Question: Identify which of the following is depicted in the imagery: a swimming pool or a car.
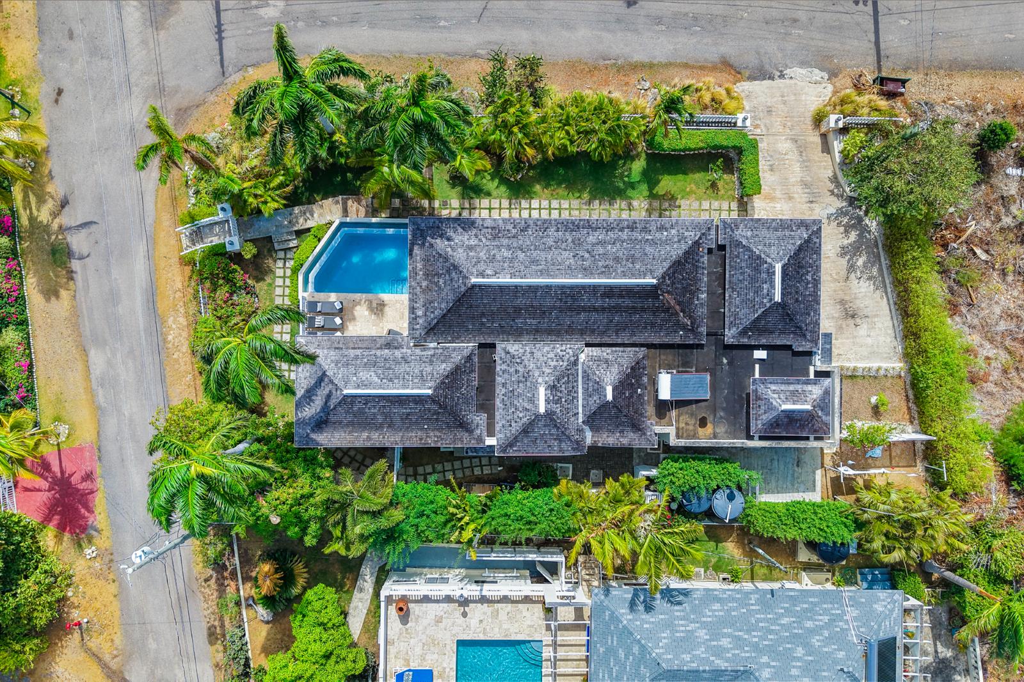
swimming pool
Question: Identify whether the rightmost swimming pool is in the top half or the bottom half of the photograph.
bottom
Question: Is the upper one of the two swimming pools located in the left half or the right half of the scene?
left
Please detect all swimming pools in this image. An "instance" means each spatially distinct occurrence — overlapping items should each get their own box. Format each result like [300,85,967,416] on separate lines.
[298,218,408,335]
[454,637,542,682]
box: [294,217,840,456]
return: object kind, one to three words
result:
house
